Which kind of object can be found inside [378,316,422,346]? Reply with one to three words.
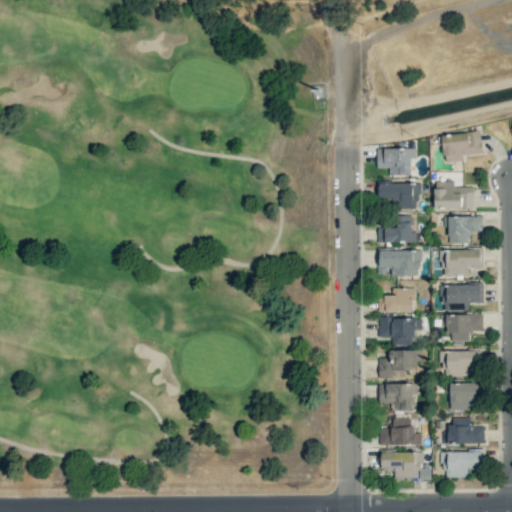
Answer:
house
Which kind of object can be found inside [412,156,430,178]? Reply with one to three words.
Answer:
swimming pool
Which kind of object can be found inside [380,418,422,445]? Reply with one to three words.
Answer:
house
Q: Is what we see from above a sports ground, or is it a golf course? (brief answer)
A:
golf course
